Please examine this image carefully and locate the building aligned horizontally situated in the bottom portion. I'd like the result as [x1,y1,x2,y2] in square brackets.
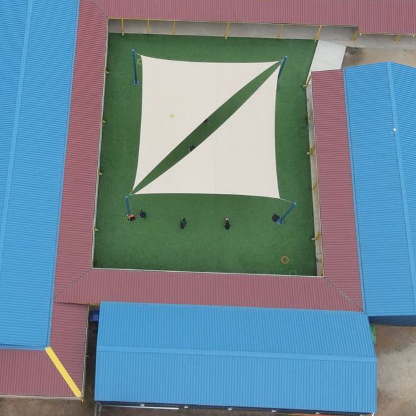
[54,267,380,416]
